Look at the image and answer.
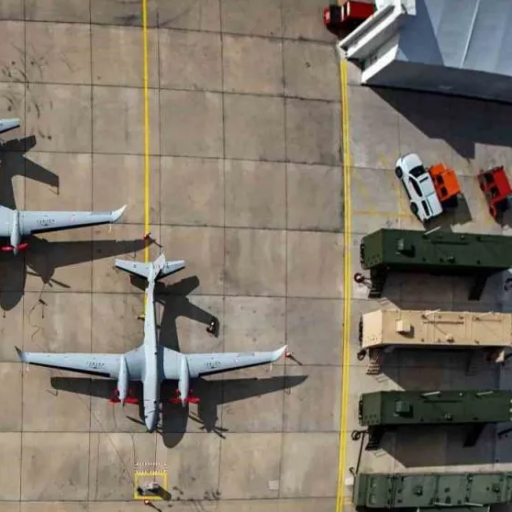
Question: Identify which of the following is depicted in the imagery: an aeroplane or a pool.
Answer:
aeroplane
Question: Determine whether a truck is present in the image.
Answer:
Yes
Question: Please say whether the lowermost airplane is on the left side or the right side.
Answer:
left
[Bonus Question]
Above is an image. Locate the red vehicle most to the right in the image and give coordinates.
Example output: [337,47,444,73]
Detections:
[473,169,512,224]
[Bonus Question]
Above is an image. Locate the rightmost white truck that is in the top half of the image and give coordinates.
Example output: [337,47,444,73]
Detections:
[396,153,447,220]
